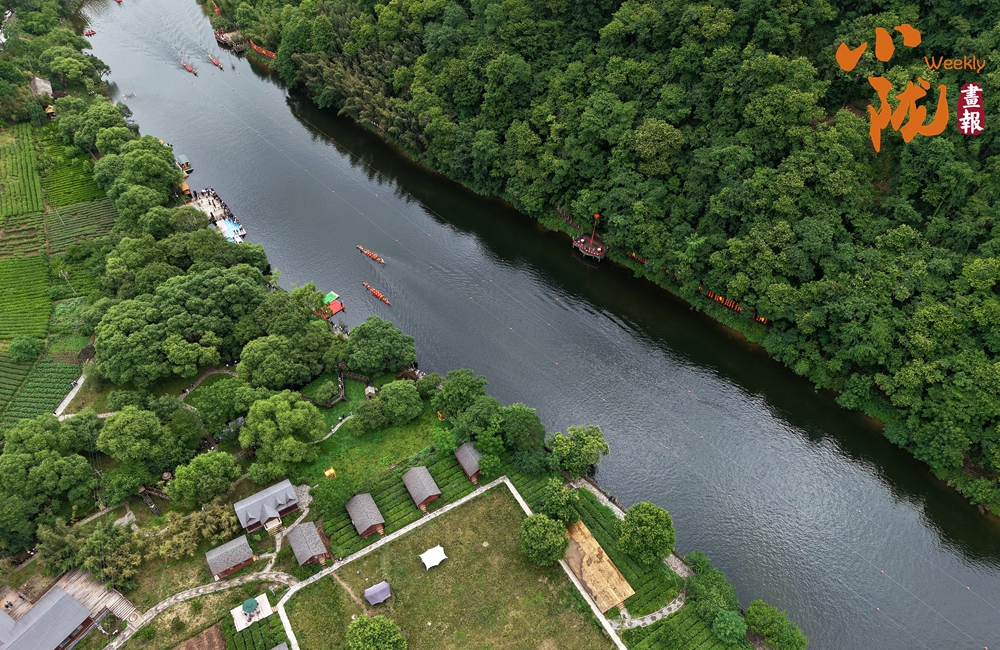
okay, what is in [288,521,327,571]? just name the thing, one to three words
building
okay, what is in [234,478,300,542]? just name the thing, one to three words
house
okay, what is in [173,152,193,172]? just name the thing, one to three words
boat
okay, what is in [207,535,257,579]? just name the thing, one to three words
building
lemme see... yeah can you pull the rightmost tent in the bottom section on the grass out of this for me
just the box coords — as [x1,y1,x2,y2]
[417,544,454,576]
